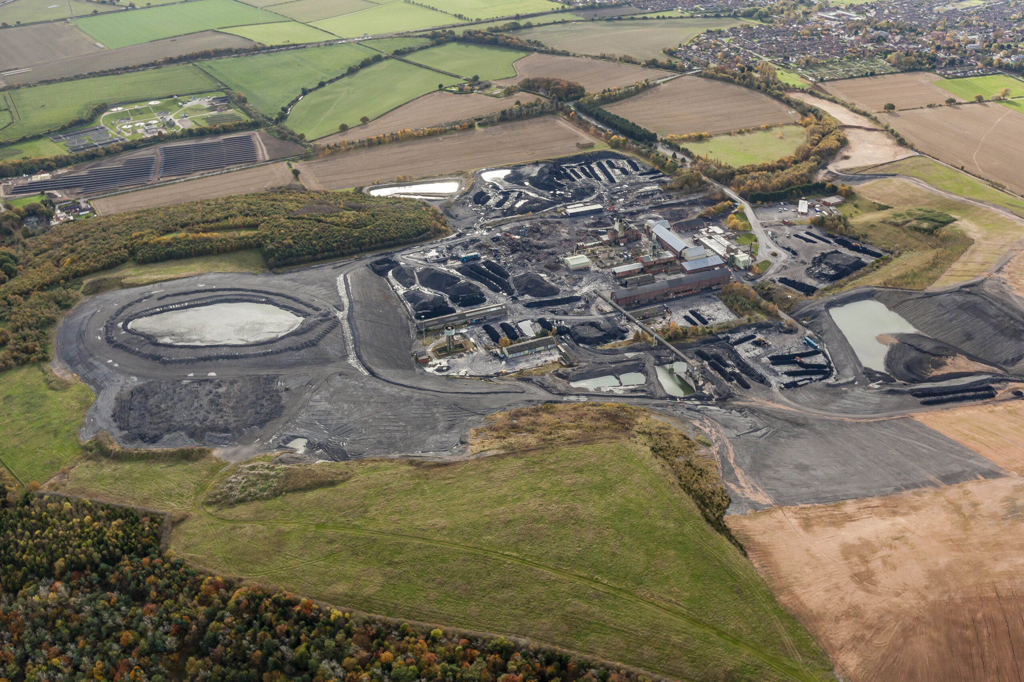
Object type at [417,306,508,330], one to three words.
shed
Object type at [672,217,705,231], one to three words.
building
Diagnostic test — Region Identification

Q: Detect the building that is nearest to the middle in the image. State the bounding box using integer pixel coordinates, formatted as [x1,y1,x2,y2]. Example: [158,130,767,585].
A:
[505,338,557,358]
